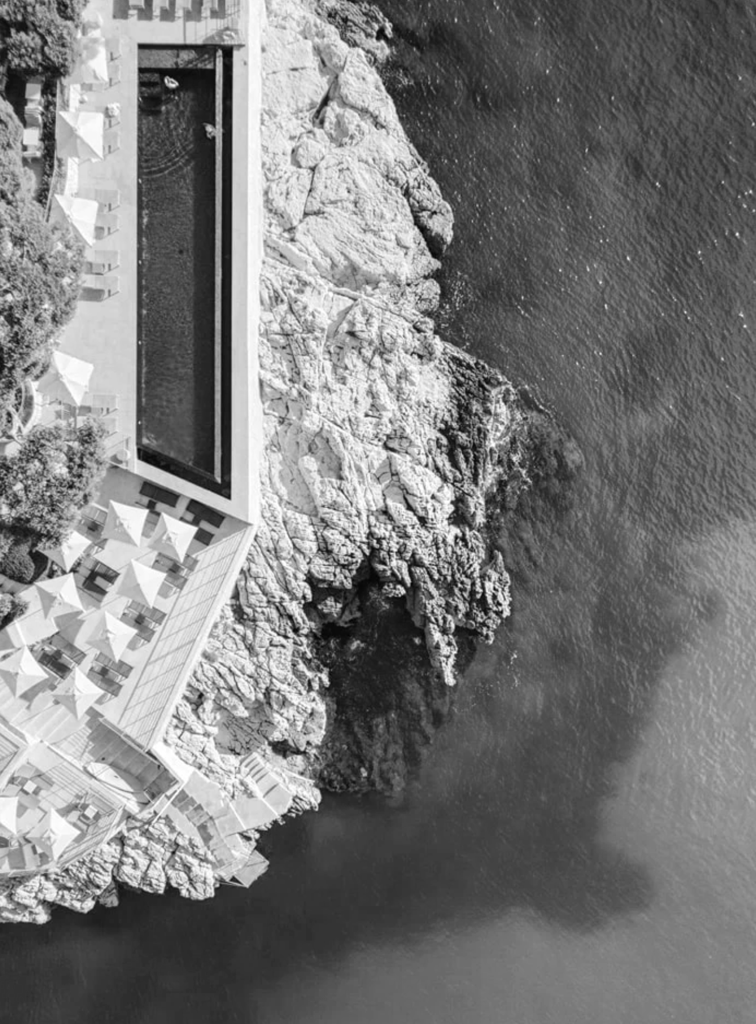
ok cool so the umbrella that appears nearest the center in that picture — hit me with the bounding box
[147,513,197,562]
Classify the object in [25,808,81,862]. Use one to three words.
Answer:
umbrella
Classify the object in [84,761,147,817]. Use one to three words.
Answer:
boat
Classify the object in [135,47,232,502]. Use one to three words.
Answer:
swimming pool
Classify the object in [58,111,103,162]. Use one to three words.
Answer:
umbrella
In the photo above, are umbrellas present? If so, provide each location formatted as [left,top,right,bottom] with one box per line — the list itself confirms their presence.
[38,350,93,405]
[116,560,166,608]
[25,808,81,862]
[51,667,104,718]
[49,195,98,246]
[85,611,137,663]
[0,645,48,698]
[101,500,149,547]
[0,797,18,834]
[58,111,103,162]
[34,573,84,620]
[68,38,108,85]
[147,513,197,562]
[80,10,107,40]
[36,533,91,572]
